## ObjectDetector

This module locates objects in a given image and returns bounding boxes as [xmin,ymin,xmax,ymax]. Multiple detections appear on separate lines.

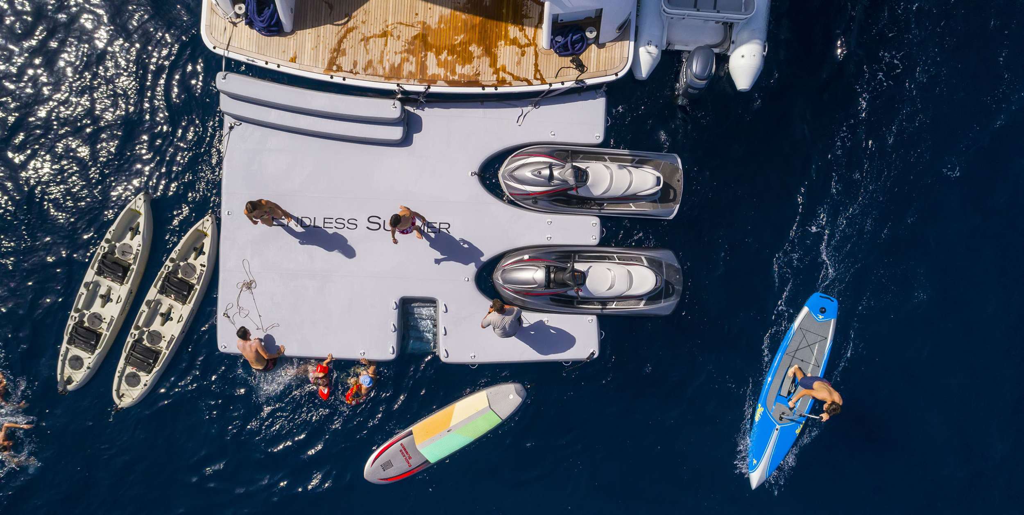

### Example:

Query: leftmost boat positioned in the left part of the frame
[50,193,158,393]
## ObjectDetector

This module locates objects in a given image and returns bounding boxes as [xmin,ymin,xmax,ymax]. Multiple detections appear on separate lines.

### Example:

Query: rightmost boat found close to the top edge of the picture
[634,0,773,107]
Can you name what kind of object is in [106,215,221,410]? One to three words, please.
boat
